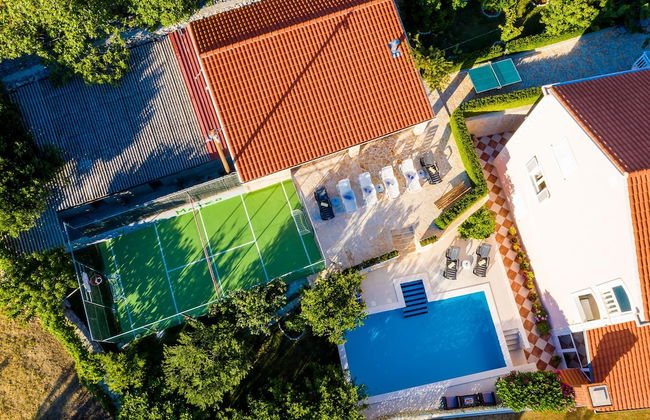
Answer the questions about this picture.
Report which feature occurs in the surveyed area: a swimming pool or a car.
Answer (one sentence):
The one in the frame is a swimming pool.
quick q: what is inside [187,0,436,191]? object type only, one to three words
house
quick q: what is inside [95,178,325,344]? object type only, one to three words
sports court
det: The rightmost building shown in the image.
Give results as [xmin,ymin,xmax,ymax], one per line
[491,65,650,414]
